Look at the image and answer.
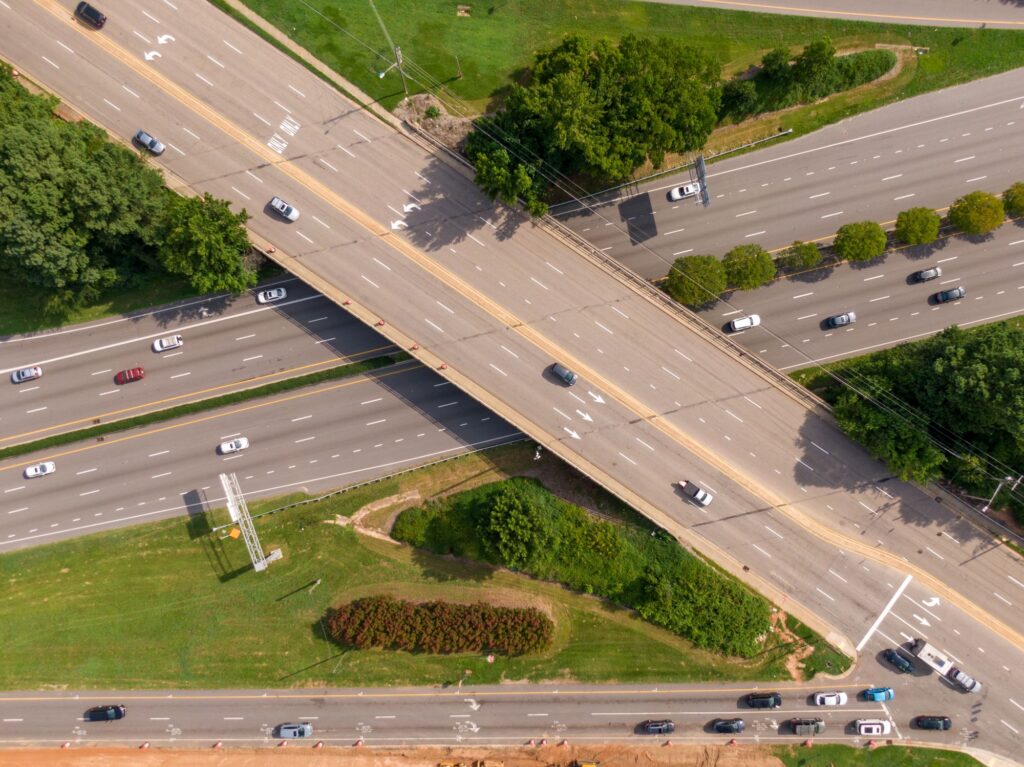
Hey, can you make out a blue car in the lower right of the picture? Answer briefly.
Yes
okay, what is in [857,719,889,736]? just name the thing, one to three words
car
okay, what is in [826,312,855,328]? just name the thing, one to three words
car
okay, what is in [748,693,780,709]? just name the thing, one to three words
vehicle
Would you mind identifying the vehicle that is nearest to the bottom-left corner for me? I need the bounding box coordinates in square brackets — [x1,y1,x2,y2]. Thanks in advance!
[89,705,123,721]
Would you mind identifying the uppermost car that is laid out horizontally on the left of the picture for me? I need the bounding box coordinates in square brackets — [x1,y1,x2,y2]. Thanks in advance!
[258,287,287,304]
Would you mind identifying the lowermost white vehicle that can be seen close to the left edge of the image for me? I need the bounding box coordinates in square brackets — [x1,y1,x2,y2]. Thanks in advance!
[25,461,56,478]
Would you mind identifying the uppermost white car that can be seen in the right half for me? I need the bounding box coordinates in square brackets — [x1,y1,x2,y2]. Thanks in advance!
[669,182,699,200]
